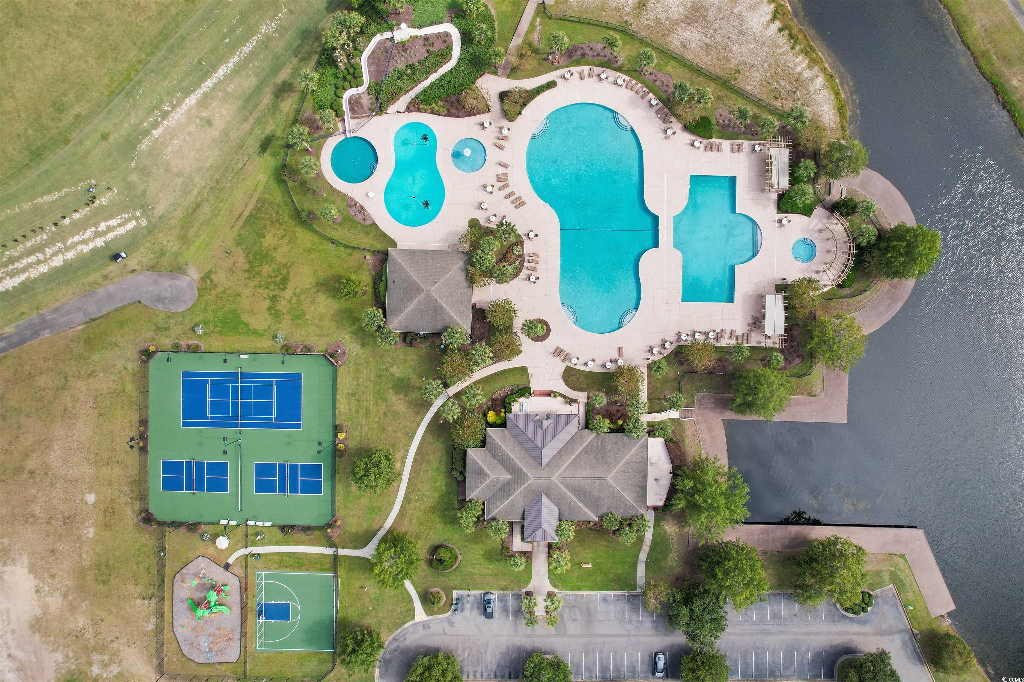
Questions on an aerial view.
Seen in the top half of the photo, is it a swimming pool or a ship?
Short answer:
swimming pool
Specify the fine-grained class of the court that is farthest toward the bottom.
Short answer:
basketball court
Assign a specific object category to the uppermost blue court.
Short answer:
tennis court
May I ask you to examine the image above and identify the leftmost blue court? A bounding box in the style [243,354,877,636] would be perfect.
[161,459,229,495]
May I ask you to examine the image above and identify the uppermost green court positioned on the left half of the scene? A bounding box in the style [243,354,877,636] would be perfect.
[148,352,337,526]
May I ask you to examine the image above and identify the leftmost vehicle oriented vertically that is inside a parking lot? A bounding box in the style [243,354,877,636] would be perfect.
[482,594,495,621]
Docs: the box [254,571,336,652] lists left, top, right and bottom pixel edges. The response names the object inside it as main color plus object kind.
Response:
green basketball court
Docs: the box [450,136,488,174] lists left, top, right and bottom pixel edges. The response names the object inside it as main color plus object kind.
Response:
blue swimming pool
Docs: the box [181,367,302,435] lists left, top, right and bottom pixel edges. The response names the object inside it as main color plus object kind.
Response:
blue tennis court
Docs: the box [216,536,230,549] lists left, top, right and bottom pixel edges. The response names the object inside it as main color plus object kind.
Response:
white umbrella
